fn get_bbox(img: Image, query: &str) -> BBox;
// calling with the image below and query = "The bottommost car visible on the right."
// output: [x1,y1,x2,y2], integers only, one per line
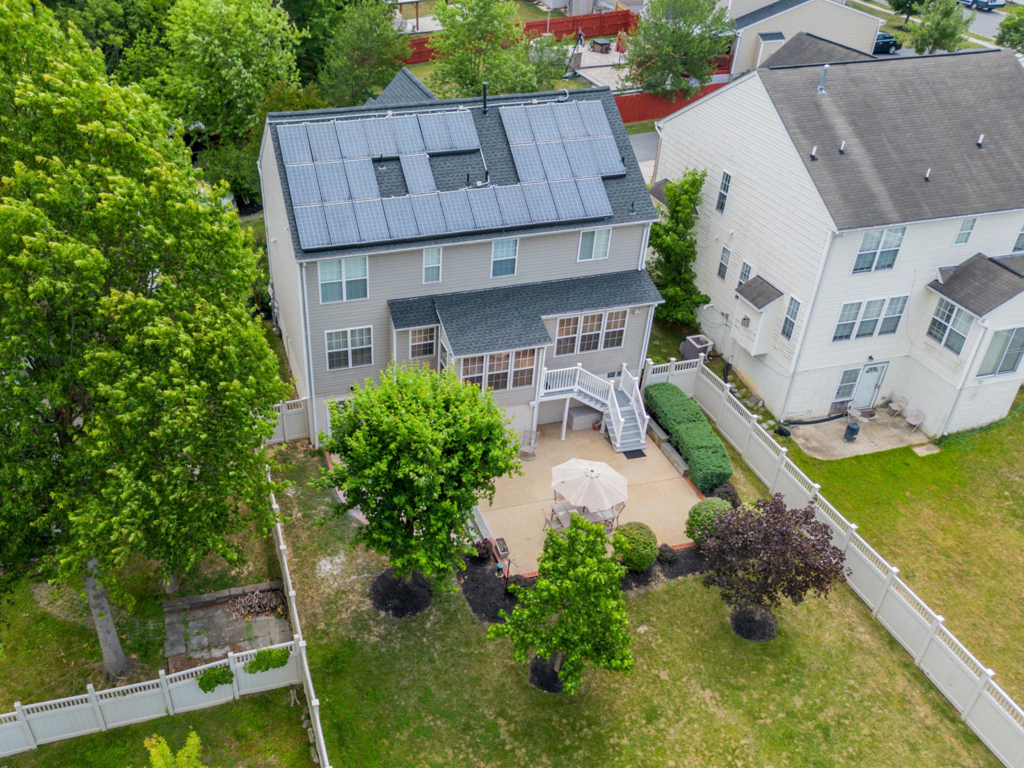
[872,29,912,52]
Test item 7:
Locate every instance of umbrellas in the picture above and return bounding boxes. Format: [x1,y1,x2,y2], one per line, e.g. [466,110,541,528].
[549,459,630,515]
[613,27,626,67]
